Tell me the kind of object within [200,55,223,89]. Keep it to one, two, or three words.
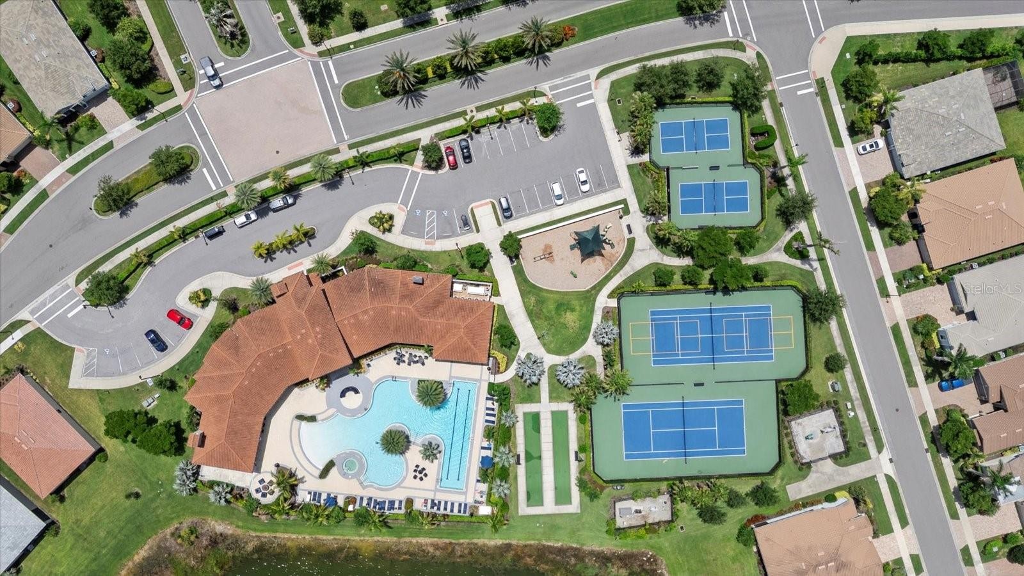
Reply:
truck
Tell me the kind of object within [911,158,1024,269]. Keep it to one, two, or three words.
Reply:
house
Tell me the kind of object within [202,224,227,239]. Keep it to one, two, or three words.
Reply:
car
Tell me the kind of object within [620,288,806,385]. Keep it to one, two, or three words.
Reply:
tennis court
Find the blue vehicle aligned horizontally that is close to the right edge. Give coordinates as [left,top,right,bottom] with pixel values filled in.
[940,376,975,392]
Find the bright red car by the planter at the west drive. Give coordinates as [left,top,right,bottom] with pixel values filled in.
[167,309,194,329]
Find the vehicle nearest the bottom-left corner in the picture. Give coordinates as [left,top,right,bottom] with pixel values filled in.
[144,329,167,352]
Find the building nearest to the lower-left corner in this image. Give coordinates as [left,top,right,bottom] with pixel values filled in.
[0,461,53,573]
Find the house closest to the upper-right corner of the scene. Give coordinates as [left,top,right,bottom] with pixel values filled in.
[885,60,1024,179]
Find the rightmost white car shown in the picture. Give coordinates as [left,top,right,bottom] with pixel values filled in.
[856,139,883,155]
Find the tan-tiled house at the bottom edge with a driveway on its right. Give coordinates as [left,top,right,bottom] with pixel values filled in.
[752,499,886,576]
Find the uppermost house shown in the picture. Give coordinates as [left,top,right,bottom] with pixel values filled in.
[0,0,115,119]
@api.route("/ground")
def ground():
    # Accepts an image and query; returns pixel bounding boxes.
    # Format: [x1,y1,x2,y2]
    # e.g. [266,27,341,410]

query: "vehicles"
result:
[459,138,472,164]
[167,309,194,329]
[856,139,883,155]
[550,182,564,207]
[498,195,513,221]
[940,376,975,392]
[144,329,167,352]
[576,167,590,194]
[202,224,227,239]
[233,210,260,227]
[445,146,458,171]
[268,195,297,211]
[200,55,223,89]
[460,214,471,231]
